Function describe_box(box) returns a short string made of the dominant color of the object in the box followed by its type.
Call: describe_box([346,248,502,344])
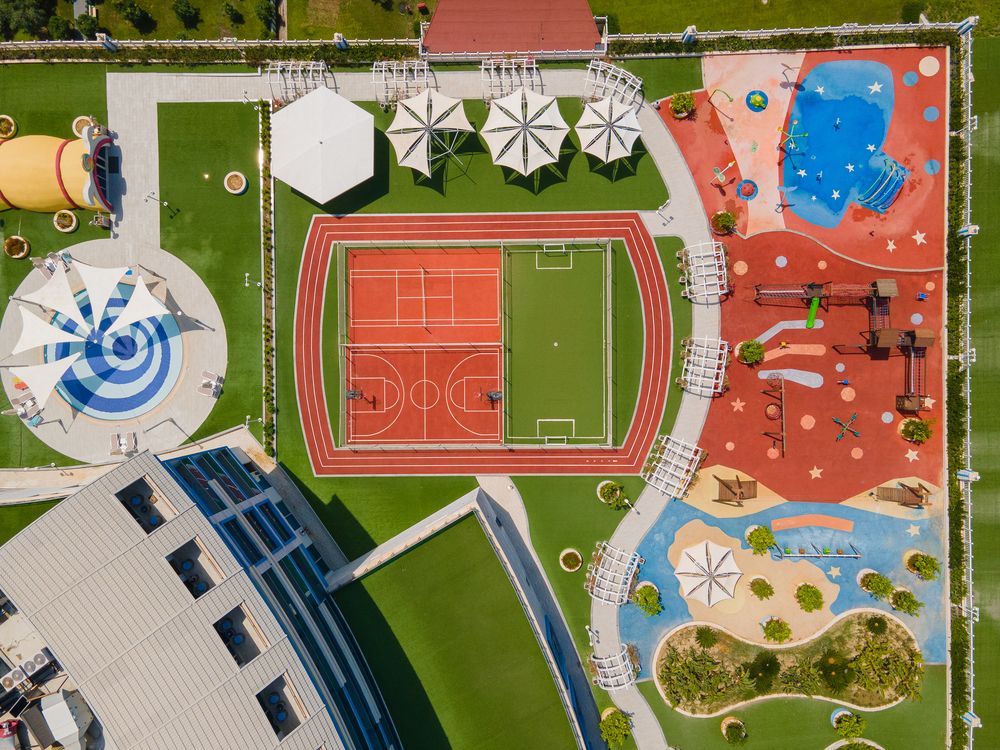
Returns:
red tennis court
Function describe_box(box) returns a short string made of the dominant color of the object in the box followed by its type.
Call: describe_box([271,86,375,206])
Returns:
white tent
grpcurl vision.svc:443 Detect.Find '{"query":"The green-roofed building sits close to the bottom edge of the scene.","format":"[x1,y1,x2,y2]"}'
[320,489,587,750]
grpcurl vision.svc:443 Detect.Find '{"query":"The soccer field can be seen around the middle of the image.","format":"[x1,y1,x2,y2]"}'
[503,244,607,445]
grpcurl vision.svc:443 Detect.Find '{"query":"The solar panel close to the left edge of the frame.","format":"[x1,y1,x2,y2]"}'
[8,694,31,718]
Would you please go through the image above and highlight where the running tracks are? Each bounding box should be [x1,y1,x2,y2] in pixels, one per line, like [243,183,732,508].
[293,210,675,478]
